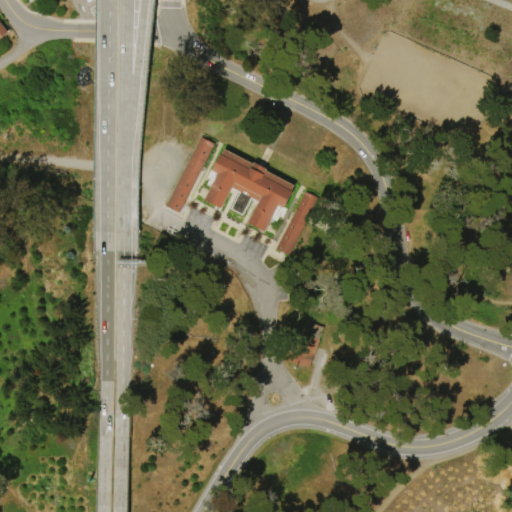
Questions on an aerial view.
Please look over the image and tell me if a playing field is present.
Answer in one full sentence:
Yes, there's a playing field here.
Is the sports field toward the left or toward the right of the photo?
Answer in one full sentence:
The sports field is on the right side of the image.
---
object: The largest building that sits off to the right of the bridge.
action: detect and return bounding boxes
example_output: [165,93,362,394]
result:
[206,149,295,230]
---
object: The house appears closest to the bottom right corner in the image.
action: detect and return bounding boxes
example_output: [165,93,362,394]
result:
[290,326,325,369]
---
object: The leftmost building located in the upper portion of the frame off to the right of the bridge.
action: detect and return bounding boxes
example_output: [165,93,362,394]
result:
[168,138,214,212]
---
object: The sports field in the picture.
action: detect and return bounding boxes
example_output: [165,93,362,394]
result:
[360,30,496,126]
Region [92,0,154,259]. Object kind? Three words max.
bridge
